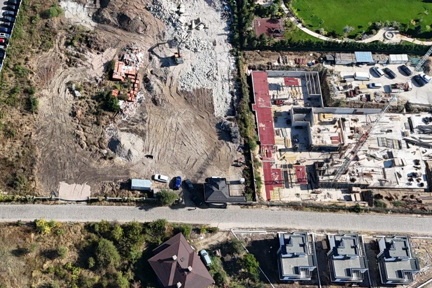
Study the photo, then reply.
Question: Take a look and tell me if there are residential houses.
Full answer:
Yes, a residential house appears in the view.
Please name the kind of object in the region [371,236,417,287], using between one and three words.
house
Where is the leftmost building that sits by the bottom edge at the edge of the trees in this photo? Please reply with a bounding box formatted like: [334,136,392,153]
[148,233,214,288]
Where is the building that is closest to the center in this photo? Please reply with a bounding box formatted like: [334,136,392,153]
[204,178,245,204]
